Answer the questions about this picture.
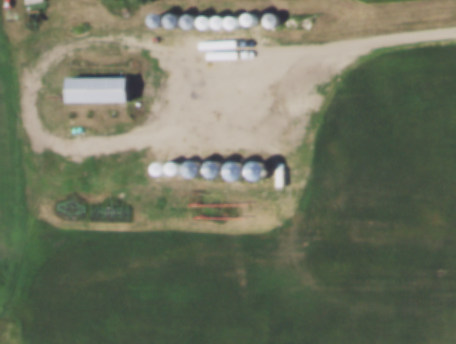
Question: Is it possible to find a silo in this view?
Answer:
Yes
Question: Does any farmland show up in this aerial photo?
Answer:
Yes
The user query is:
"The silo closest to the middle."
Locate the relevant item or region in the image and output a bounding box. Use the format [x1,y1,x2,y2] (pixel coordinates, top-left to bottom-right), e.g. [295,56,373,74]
[220,162,242,184]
